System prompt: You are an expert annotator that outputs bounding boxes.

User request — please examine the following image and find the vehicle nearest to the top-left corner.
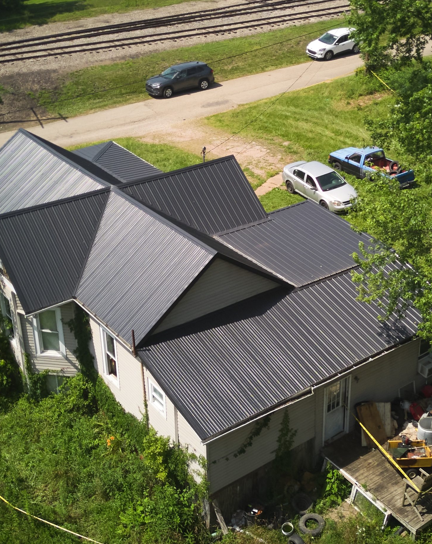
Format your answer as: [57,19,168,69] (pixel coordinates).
[142,55,215,96]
